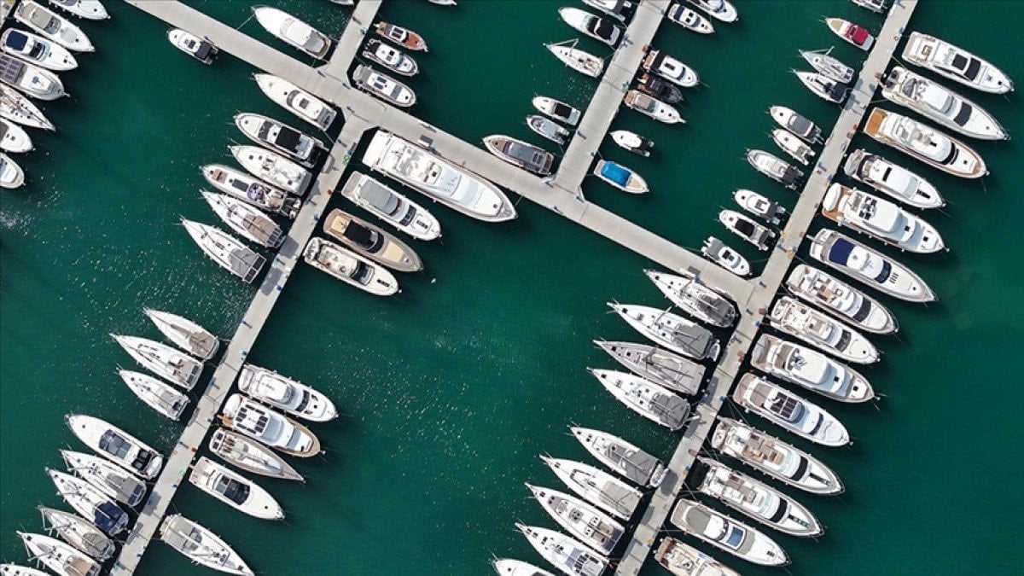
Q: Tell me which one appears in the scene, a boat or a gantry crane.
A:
boat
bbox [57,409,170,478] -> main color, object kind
white boat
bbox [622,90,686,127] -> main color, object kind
white boat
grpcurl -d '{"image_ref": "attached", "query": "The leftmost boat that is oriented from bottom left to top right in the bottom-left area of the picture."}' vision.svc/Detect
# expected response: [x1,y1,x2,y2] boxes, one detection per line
[146,456,163,478]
